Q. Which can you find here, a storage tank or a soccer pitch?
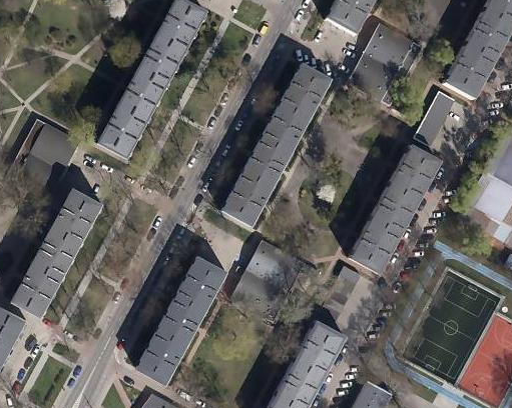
soccer pitch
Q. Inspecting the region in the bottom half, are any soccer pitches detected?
Yes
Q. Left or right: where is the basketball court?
right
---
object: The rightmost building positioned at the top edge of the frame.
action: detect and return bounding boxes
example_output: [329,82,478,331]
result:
[444,0,512,102]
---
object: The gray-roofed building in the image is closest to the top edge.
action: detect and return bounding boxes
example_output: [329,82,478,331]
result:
[327,0,378,37]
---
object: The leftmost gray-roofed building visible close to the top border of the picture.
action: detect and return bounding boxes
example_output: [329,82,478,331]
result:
[97,0,208,163]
